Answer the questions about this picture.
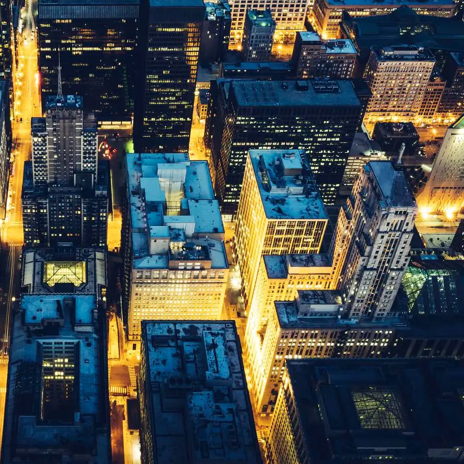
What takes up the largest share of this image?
buildings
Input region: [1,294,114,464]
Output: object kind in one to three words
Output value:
building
